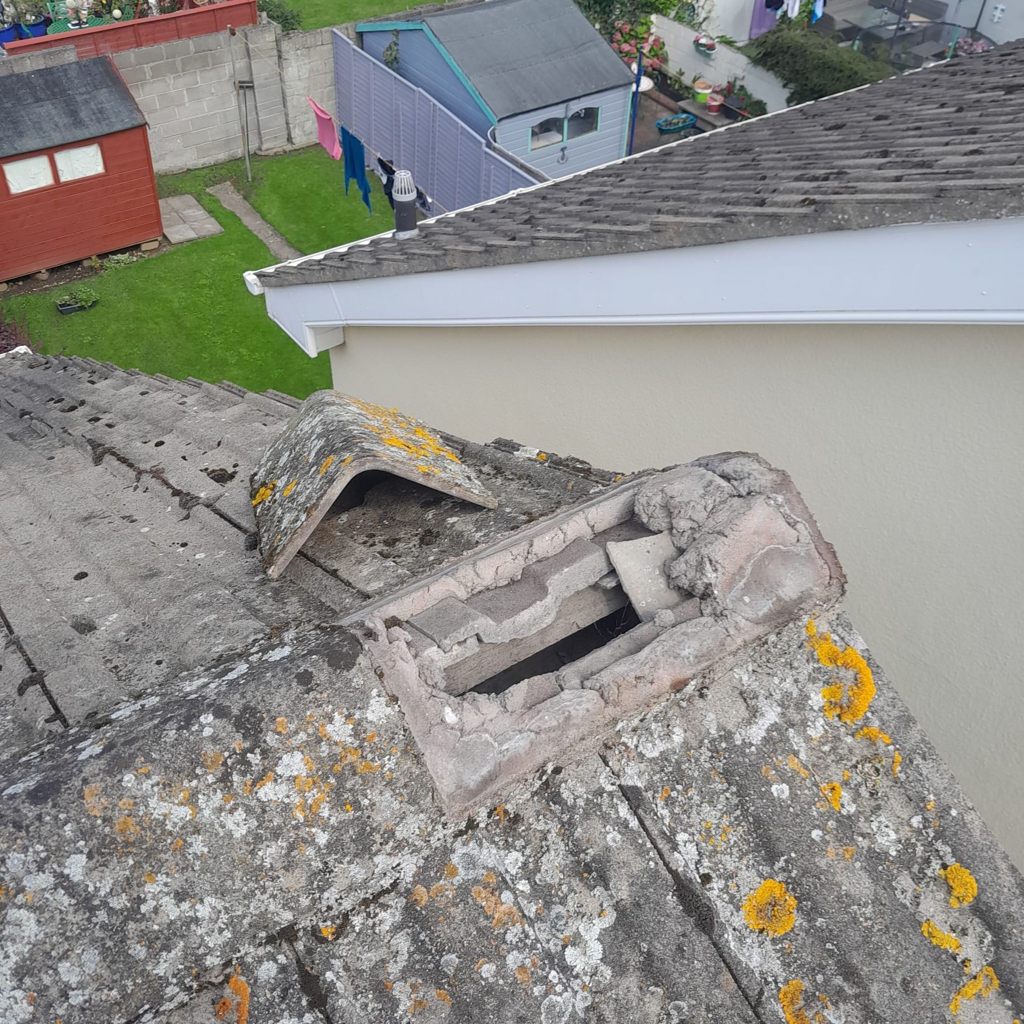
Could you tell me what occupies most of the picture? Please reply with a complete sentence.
Most of the picture is covered by buildings.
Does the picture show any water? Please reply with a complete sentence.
No, there is no water in the image.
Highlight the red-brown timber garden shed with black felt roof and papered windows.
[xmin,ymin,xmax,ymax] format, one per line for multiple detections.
[0,53,166,281]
